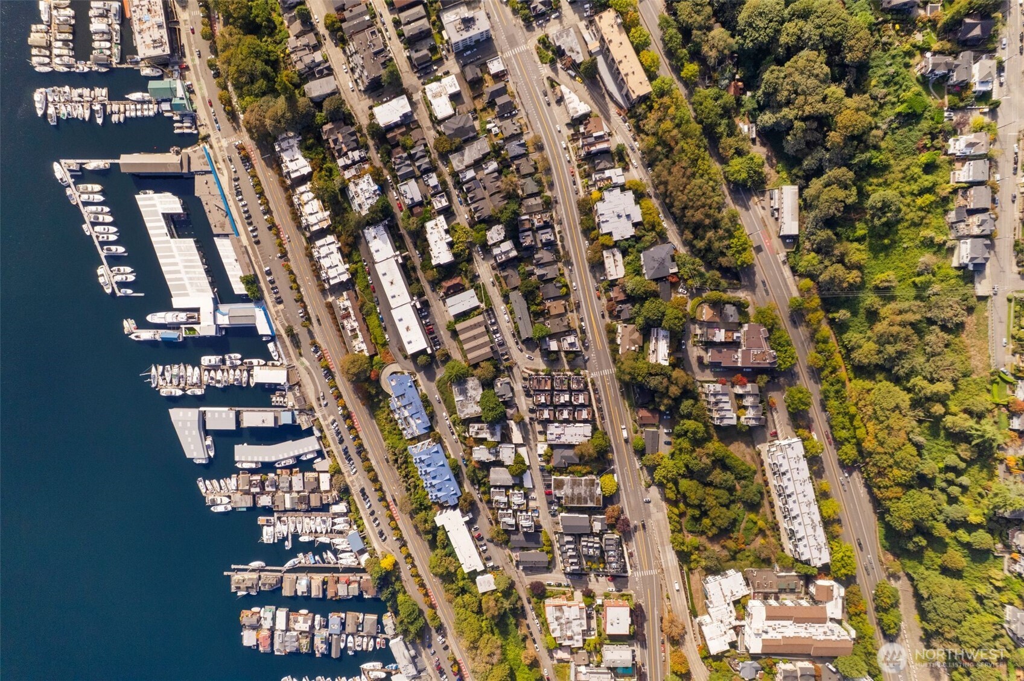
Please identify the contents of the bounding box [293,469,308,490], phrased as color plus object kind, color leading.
white boat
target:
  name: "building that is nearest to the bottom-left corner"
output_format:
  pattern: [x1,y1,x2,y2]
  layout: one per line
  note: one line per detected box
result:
[171,407,212,461]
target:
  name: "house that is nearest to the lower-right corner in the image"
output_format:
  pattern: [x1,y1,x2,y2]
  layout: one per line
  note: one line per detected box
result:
[994,602,1024,646]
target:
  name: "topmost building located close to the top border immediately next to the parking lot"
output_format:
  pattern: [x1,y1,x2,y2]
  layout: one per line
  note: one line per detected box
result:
[131,0,178,65]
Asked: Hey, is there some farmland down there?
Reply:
No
